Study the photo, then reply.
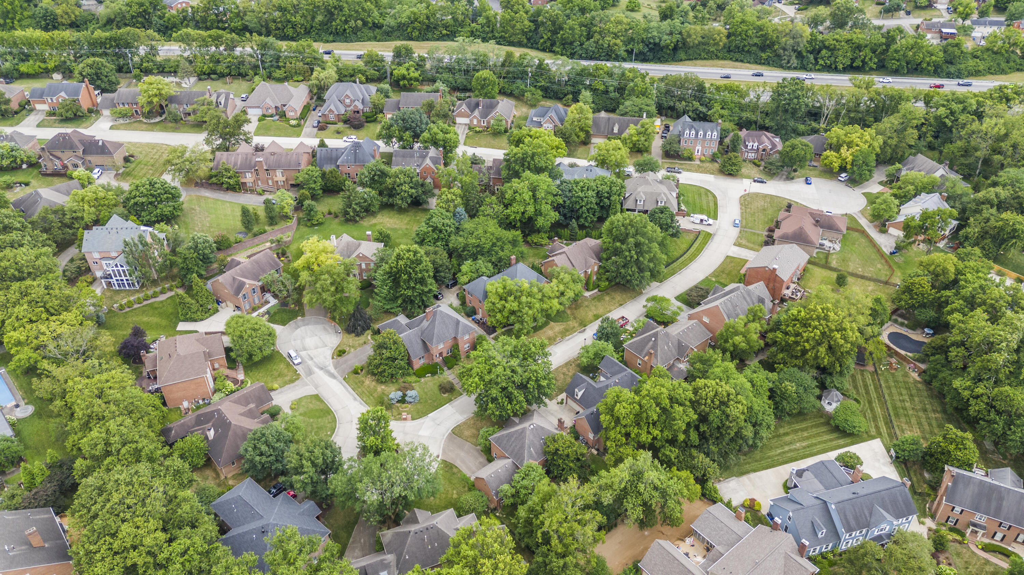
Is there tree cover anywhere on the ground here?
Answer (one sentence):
Yes, some tree cover is visible.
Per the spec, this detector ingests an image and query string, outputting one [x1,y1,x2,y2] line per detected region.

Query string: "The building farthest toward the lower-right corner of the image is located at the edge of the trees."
[931,466,1024,549]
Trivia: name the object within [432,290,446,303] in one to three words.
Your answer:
vehicle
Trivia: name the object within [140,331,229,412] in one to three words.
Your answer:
house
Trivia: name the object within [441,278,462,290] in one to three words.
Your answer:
vehicle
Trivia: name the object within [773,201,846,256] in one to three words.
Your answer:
house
